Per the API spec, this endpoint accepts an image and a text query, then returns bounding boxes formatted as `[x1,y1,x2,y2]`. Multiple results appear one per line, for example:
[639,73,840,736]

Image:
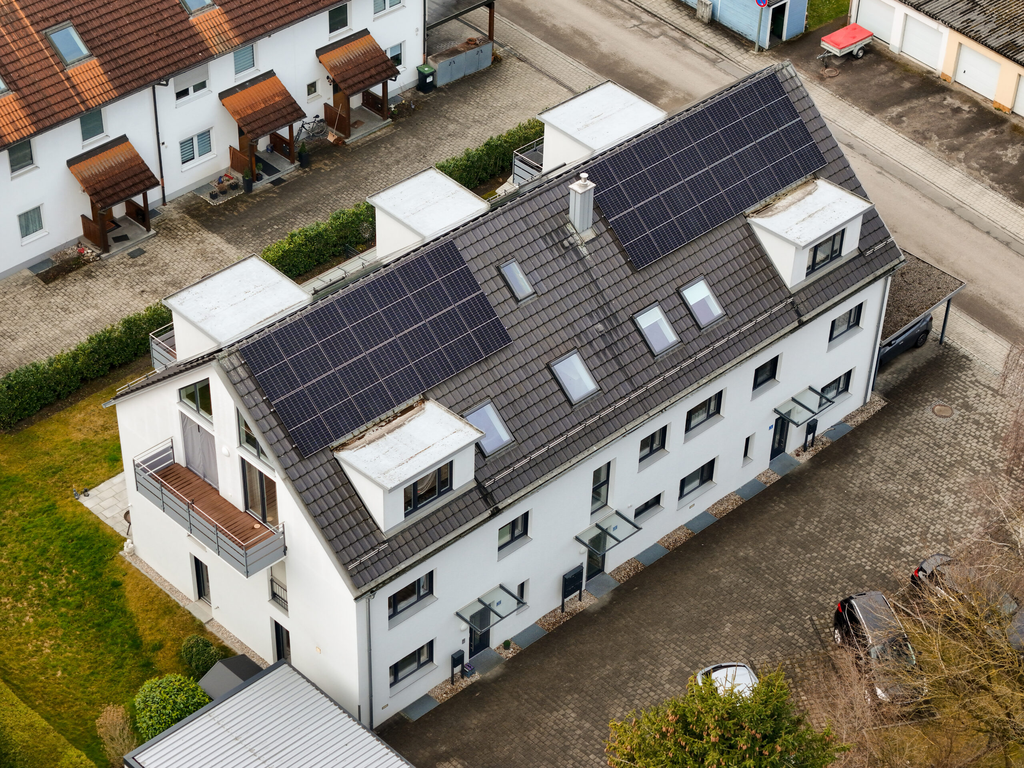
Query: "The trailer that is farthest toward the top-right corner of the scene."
[813,23,874,68]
